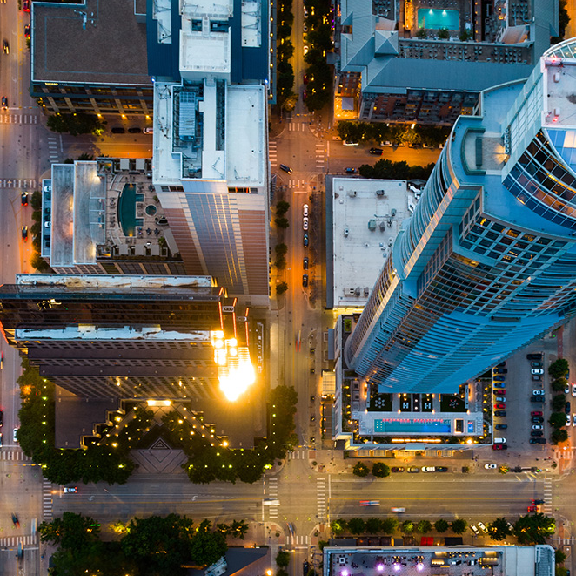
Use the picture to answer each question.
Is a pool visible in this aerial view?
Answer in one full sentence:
Yes, you can see a pool in this photo.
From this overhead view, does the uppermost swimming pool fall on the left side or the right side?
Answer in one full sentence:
It is on the right.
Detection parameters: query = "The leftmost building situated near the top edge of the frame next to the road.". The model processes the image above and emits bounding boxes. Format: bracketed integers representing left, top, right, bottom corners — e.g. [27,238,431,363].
[30,0,152,119]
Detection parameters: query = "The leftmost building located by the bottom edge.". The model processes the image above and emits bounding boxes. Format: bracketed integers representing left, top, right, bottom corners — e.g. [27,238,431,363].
[189,548,269,576]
